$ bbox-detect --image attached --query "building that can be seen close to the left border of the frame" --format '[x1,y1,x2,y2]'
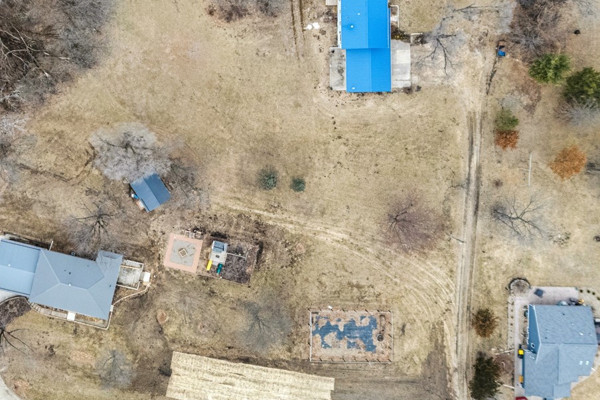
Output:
[0,238,123,321]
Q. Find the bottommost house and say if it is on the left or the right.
right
